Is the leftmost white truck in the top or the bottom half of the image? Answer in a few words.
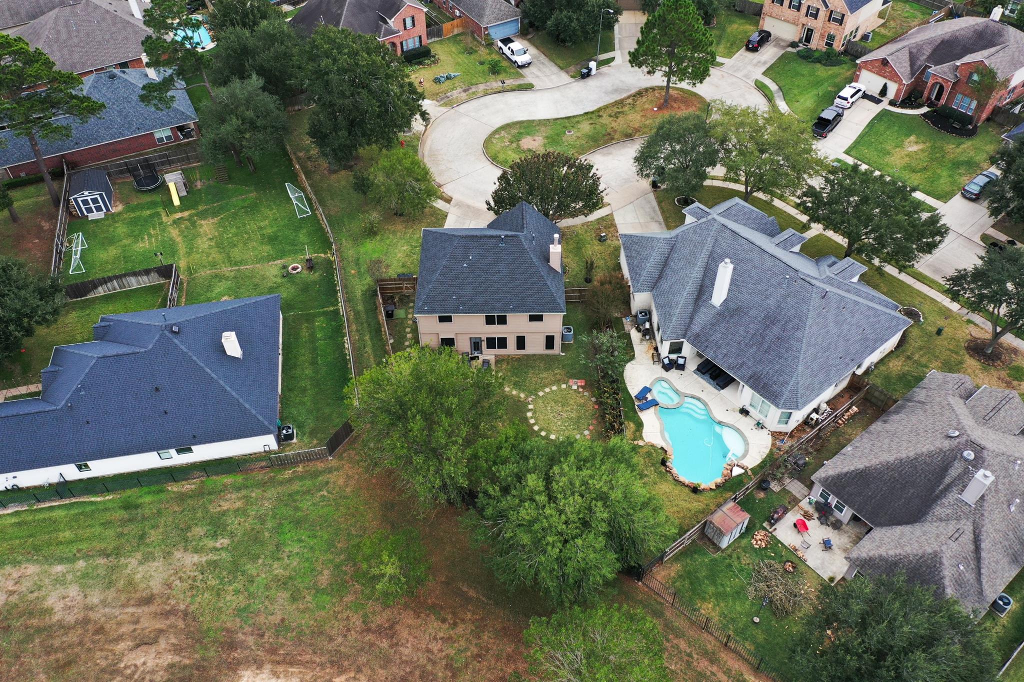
top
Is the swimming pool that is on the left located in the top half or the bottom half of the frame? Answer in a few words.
top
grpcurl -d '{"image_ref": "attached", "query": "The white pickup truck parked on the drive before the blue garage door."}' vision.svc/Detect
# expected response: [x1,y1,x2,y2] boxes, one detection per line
[495,35,535,68]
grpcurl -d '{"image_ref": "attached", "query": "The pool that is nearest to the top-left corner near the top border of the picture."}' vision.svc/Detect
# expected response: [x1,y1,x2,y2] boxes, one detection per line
[172,16,214,47]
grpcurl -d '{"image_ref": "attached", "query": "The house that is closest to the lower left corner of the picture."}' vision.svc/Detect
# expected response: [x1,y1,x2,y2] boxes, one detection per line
[0,294,281,495]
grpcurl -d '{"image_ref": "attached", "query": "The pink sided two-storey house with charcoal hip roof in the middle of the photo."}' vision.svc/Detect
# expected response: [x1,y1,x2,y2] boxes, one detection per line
[413,201,567,357]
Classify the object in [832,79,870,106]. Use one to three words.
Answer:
car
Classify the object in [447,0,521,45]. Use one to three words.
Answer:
house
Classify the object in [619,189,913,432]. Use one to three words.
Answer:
house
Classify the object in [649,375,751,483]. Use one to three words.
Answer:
swimming pool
